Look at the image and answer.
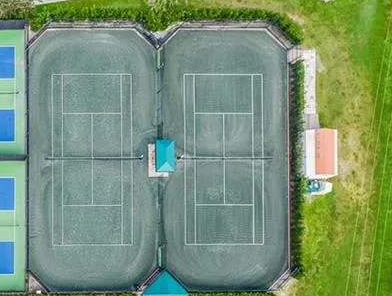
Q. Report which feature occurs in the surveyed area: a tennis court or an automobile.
tennis court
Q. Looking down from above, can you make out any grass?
Yes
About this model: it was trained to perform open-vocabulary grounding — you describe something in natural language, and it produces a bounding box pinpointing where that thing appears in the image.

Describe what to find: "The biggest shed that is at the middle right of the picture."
[302,129,336,180]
